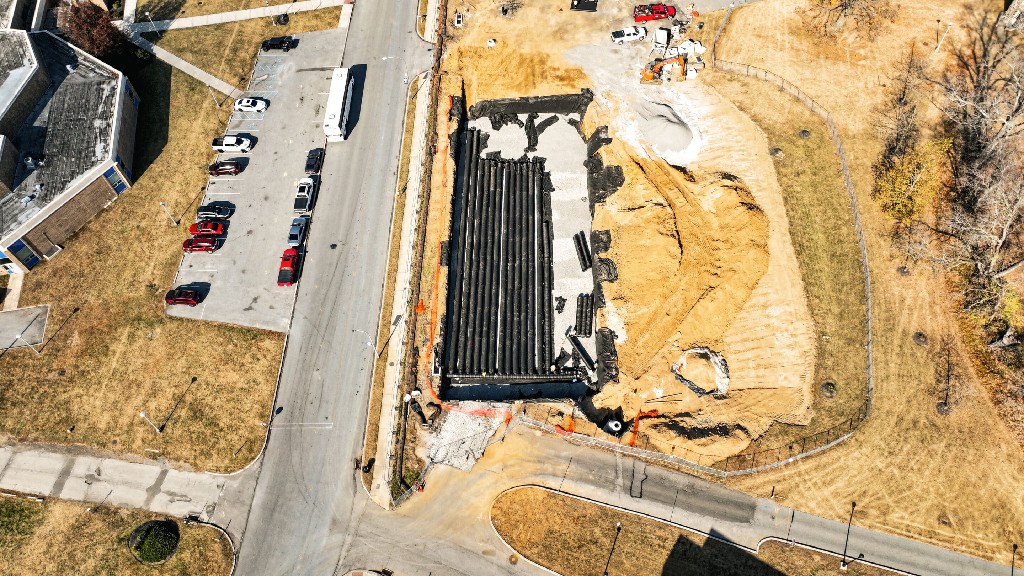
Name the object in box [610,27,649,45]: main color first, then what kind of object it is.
white vehicle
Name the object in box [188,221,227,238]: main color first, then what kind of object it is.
red car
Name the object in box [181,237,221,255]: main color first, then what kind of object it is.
red car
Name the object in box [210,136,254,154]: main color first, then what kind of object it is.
white vehicle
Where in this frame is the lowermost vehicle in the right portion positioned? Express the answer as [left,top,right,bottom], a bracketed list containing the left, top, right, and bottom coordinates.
[639,52,688,84]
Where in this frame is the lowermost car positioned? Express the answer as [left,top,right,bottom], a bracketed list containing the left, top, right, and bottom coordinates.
[162,289,205,308]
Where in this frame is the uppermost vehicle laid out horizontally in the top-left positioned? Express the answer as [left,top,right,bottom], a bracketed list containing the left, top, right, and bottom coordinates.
[258,36,297,53]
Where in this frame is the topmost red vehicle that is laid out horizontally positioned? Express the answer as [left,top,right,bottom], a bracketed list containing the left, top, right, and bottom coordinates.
[633,0,677,21]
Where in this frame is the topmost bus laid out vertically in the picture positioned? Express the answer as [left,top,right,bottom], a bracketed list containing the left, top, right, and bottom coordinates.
[325,69,355,151]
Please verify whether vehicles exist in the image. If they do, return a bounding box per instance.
[293,178,315,213]
[258,36,297,53]
[633,0,677,21]
[276,247,300,287]
[639,52,688,84]
[610,27,649,45]
[194,204,233,222]
[188,221,227,238]
[181,237,221,255]
[325,69,355,151]
[287,217,309,247]
[210,136,254,154]
[304,149,324,176]
[162,289,205,308]
[207,161,244,178]
[233,98,269,113]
